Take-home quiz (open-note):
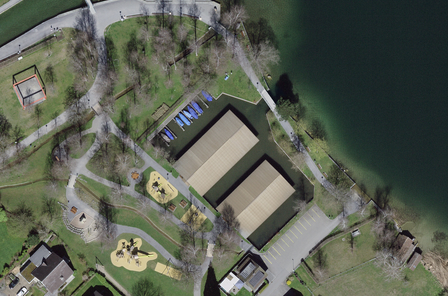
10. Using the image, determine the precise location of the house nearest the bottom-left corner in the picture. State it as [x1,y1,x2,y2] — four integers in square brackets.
[21,246,74,294]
